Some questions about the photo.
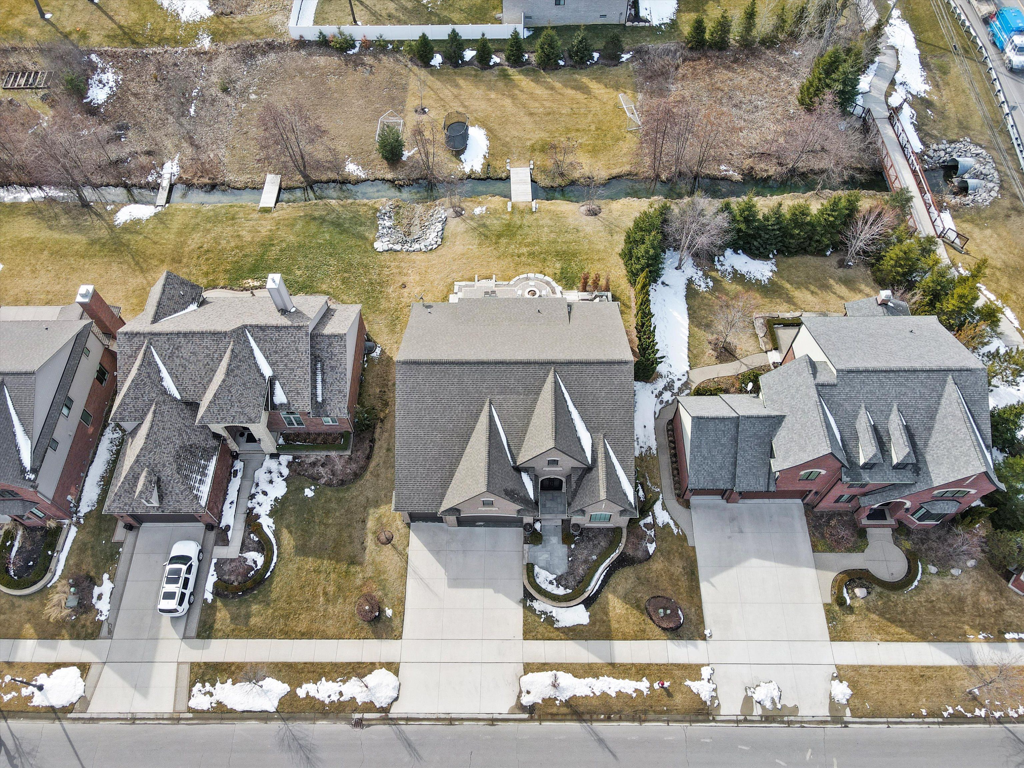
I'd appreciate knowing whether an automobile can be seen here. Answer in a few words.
Yes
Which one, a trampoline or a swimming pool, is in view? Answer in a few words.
trampoline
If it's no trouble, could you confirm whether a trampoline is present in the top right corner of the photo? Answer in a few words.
No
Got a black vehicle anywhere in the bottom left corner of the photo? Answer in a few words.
No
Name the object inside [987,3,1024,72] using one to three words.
truck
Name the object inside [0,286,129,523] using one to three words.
house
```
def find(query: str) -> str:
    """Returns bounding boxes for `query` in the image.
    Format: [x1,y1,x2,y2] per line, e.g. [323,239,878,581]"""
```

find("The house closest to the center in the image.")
[392,298,639,540]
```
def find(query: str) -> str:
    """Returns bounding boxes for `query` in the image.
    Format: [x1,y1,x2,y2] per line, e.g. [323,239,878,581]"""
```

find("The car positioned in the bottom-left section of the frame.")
[154,543,201,618]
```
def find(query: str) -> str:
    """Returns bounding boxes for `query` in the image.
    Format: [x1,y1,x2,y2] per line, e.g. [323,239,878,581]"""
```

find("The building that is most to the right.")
[673,291,1006,530]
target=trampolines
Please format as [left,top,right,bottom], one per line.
[443,110,472,156]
